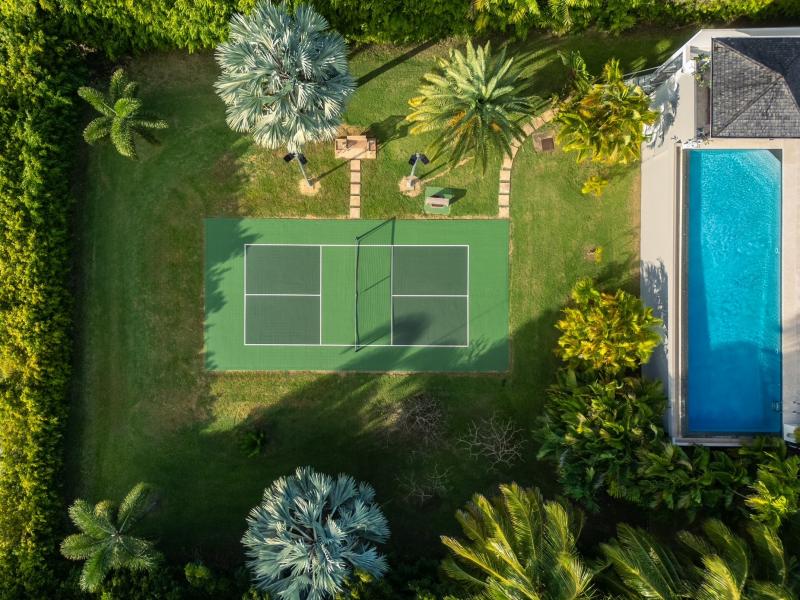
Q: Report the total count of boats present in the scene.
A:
none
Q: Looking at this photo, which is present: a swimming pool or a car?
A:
swimming pool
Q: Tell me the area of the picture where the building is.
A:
top right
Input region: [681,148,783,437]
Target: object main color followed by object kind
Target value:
blue swimming pool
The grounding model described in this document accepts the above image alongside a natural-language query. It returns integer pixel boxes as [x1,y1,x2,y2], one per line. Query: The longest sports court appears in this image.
[204,219,509,372]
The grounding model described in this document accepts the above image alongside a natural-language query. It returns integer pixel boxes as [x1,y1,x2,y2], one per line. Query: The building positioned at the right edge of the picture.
[710,36,800,138]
